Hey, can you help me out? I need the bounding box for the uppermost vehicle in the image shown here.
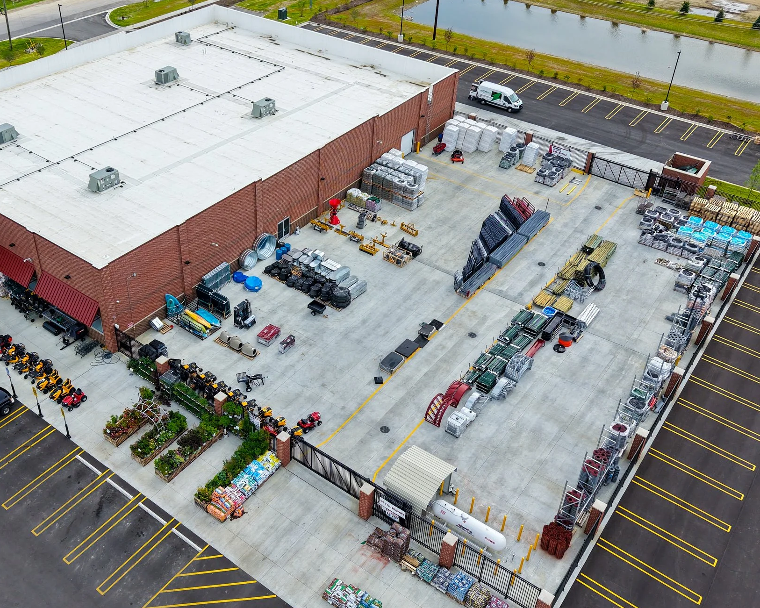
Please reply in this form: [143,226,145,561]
[462,74,519,111]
